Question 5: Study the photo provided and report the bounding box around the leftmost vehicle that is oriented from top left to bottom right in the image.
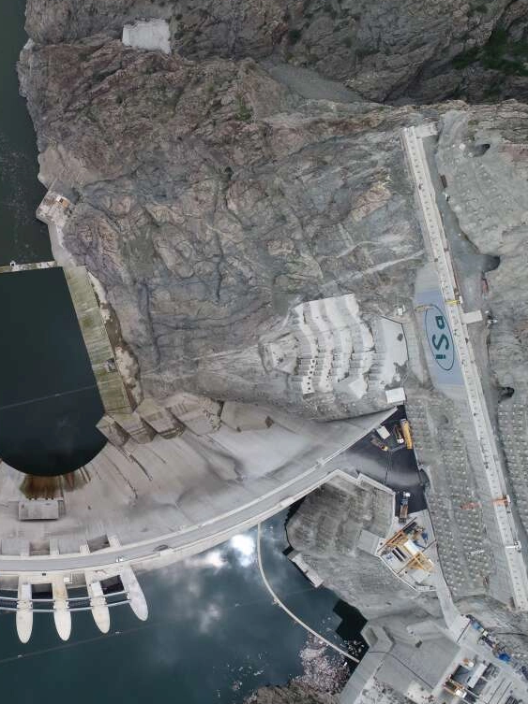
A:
[372,437,390,452]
